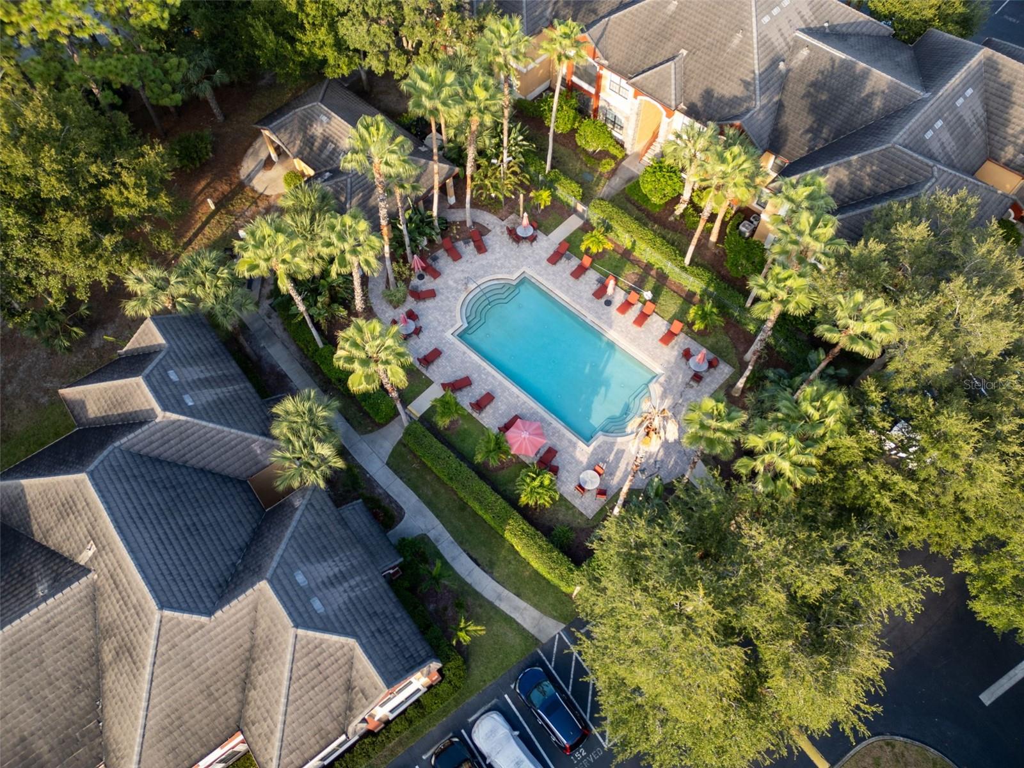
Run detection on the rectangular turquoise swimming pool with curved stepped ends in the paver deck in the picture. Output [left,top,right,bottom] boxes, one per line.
[449,272,664,451]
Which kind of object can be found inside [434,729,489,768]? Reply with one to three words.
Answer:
car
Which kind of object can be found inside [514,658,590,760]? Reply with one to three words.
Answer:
car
